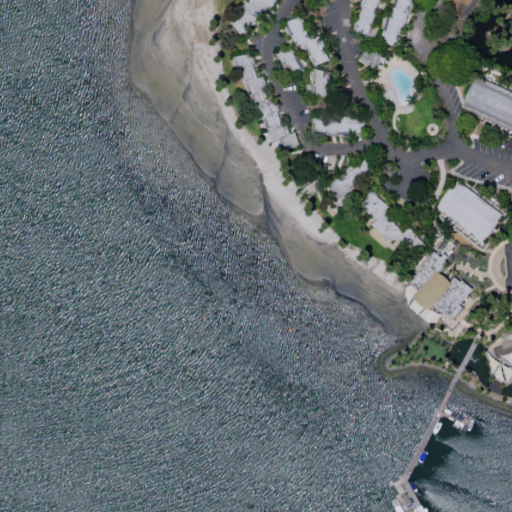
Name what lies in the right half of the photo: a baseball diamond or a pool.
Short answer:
pool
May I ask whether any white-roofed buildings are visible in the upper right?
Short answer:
Yes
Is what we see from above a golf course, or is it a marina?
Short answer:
marina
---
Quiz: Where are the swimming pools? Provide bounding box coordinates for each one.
[374,57,417,114]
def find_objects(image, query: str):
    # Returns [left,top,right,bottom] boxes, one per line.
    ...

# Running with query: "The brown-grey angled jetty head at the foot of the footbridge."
[390,480,425,512]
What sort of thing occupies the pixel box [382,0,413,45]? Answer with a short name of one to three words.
house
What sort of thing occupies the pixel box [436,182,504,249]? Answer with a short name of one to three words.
building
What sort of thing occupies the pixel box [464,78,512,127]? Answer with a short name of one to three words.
building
